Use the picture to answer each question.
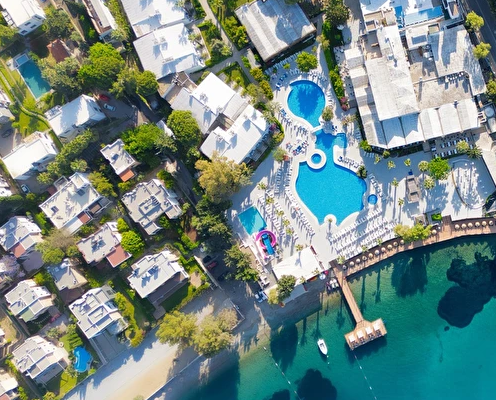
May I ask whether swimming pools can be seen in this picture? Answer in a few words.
Yes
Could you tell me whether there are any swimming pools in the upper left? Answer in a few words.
Yes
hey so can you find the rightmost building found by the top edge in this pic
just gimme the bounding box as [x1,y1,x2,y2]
[344,0,485,149]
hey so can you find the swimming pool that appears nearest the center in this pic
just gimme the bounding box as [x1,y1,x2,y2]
[235,205,267,236]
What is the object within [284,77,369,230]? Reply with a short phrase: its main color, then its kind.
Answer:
blue swimming pool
